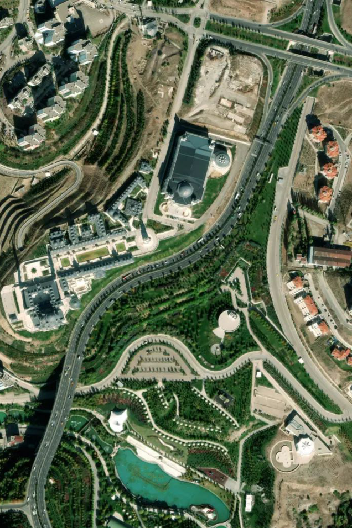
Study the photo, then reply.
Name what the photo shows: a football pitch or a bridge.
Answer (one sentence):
It is a bridge that can be seen here.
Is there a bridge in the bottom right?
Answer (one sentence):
No, no bridge appears in the bottom right.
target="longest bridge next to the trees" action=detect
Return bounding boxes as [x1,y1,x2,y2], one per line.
[33,357,84,464]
